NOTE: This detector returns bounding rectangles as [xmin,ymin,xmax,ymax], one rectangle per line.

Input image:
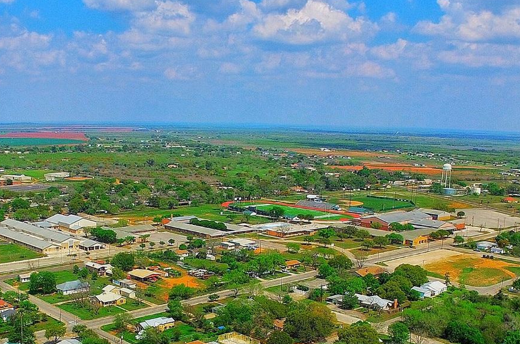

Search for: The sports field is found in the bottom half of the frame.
[225,202,349,218]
